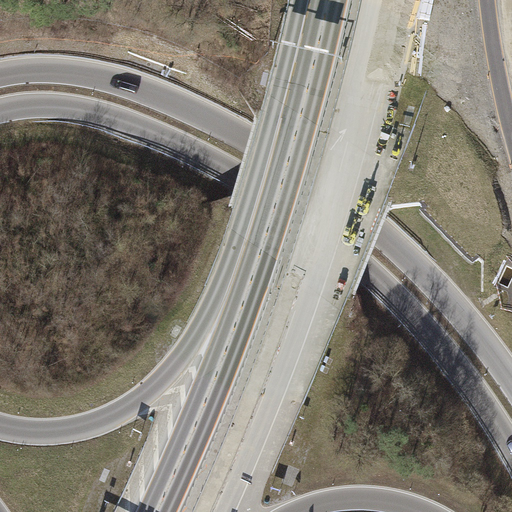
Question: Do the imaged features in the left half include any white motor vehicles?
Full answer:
No, no white motor vehicle is visible in the left half.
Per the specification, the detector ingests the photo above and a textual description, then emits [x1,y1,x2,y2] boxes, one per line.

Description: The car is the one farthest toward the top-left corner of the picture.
[111,76,138,93]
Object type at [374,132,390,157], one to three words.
vehicle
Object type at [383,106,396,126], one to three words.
vehicle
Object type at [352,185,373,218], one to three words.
work vehicle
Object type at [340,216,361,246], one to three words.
work vehicle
